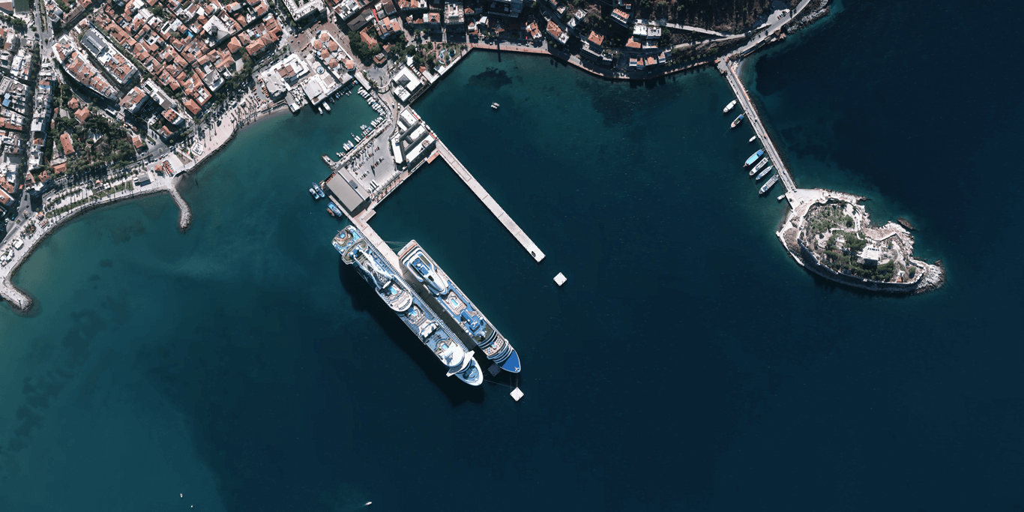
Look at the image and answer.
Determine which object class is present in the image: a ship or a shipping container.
ship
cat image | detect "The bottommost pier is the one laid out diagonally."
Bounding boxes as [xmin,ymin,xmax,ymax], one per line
[349,218,477,353]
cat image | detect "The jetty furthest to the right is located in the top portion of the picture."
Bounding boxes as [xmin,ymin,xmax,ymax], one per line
[436,138,545,262]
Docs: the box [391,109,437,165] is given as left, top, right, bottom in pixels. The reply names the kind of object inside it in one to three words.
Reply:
building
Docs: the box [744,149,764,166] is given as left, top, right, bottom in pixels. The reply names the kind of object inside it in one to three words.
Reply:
boat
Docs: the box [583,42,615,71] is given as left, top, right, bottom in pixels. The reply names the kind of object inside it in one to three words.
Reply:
building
